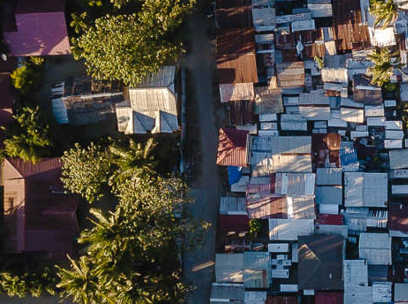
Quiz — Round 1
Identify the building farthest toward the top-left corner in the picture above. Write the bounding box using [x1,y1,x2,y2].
[5,0,80,59]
